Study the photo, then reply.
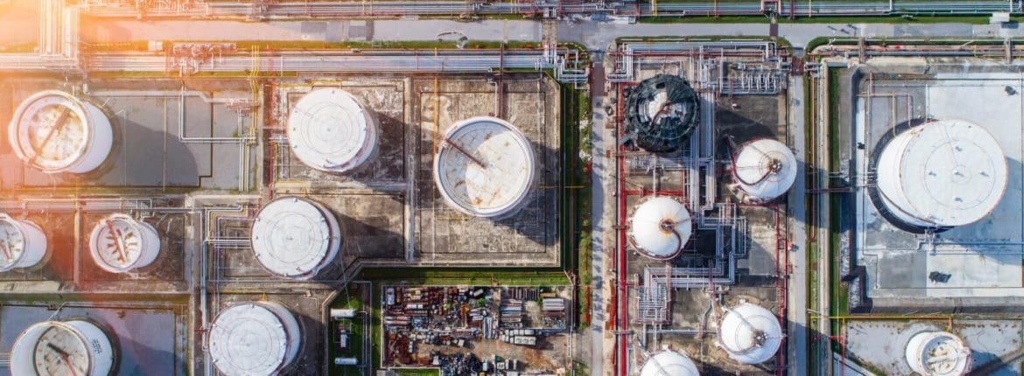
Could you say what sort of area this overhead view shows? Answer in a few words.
industrial area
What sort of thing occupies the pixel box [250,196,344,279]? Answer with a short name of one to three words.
storage tank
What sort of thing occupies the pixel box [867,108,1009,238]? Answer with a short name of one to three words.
storage tank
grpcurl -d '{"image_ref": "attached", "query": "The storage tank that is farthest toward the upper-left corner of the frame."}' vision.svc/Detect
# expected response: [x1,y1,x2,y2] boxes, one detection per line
[8,91,114,176]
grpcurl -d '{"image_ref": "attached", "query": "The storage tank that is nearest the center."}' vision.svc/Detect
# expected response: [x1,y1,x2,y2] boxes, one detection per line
[434,117,534,219]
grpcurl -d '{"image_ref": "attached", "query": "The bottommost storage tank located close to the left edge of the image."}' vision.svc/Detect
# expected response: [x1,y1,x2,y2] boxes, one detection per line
[10,301,116,376]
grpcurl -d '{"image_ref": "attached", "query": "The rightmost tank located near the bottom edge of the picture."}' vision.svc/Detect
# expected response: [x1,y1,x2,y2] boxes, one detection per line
[906,329,973,376]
